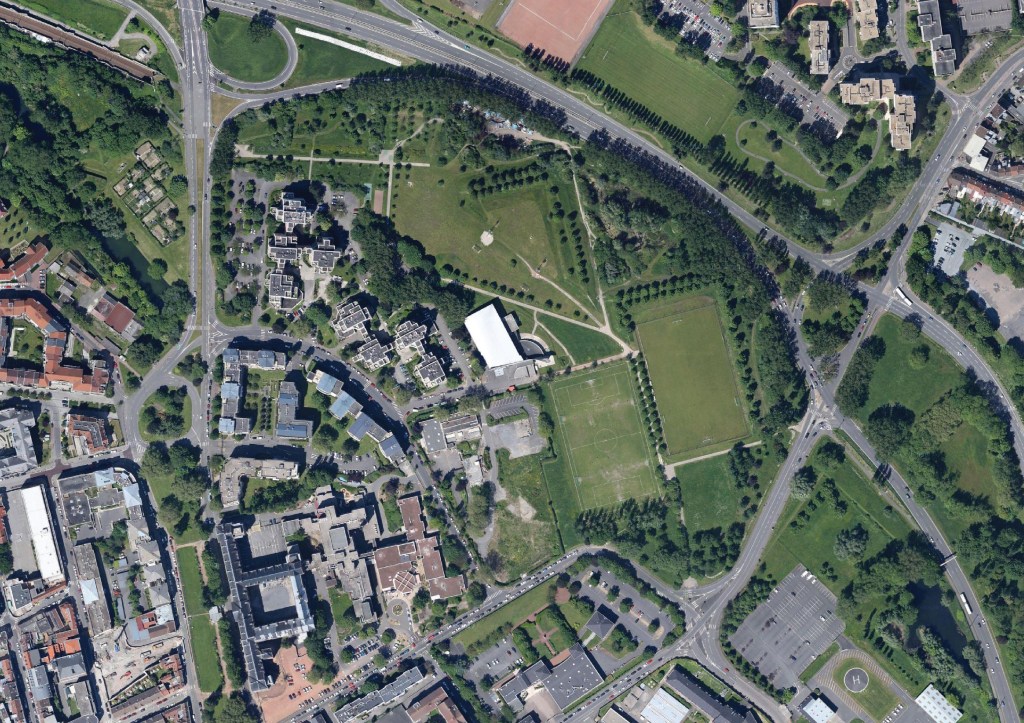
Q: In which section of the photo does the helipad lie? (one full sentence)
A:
The helipad is located in the bottom right region of the scene.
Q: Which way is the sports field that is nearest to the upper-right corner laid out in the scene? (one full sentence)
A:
The sports field that is nearest to the upper-right corner has been laid out diagonally relative to the frame.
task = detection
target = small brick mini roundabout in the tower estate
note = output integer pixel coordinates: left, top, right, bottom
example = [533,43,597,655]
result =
[835,48,863,76]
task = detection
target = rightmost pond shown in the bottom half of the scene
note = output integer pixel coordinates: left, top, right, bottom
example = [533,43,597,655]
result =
[905,583,984,686]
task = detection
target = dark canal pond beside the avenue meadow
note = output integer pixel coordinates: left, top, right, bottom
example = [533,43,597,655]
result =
[100,234,173,306]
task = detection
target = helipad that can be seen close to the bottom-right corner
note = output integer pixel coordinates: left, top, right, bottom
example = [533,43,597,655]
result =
[806,649,926,723]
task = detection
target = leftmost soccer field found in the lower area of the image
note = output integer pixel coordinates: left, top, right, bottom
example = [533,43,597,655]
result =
[549,363,661,512]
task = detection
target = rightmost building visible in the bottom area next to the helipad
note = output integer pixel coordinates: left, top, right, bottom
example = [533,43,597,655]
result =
[915,684,963,723]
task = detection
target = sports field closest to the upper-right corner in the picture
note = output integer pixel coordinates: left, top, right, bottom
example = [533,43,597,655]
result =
[578,11,738,148]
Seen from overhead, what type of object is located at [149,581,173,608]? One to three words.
house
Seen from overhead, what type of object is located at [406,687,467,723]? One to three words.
building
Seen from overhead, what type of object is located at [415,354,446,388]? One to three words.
building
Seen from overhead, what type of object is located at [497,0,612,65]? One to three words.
sports field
